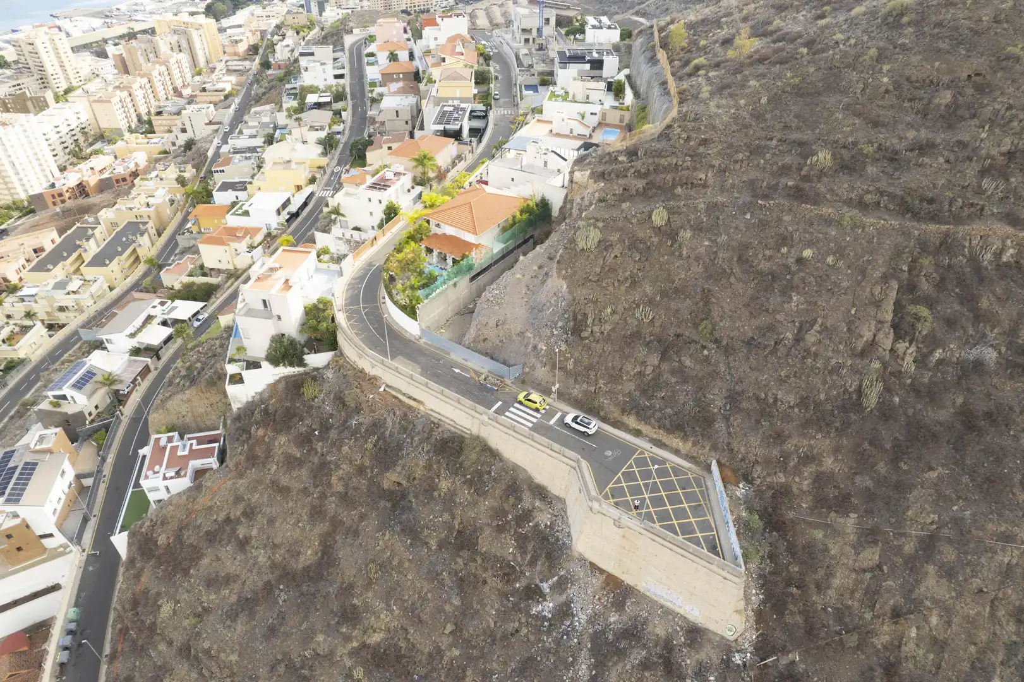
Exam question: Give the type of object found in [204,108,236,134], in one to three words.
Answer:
building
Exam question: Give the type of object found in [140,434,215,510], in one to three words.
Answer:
house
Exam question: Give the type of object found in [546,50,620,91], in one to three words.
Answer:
house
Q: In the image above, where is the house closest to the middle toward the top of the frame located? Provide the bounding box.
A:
[420,182,531,264]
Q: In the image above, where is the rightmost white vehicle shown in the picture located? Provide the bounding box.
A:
[564,416,598,438]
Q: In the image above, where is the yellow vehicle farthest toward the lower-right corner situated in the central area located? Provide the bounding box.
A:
[519,394,548,413]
